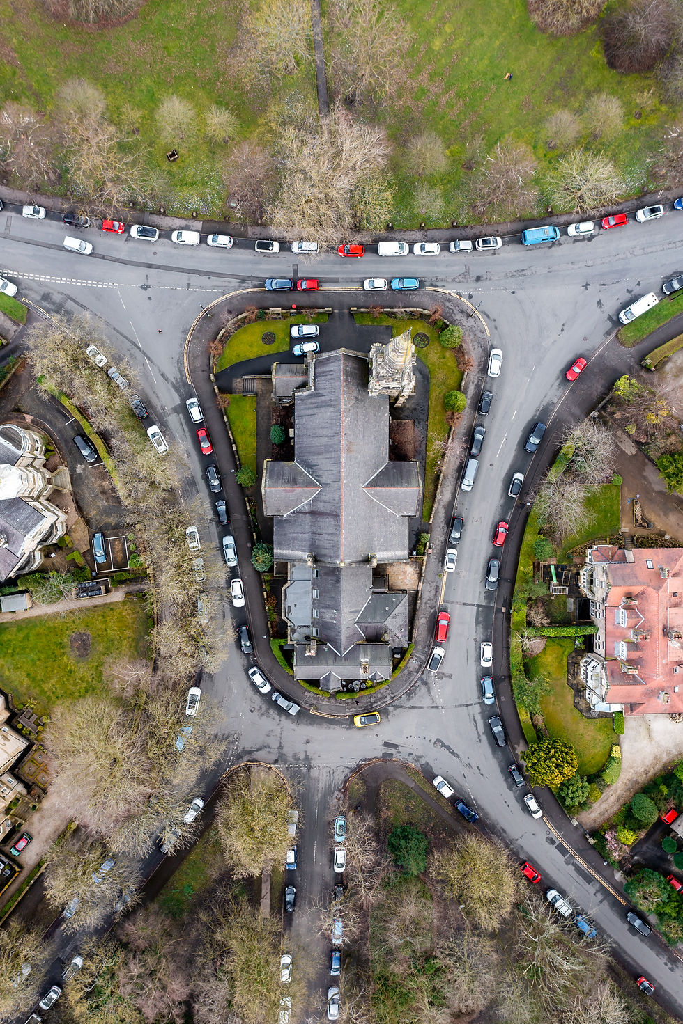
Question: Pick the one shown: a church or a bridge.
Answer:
church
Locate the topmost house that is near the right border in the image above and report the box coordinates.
[574,544,683,715]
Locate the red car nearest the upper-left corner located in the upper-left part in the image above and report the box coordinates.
[102,221,126,235]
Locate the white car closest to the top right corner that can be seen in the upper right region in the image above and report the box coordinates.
[633,205,664,224]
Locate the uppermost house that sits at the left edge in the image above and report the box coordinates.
[0,419,70,587]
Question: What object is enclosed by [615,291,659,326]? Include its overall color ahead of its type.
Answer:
white vehicle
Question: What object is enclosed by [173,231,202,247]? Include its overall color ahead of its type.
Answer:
white vehicle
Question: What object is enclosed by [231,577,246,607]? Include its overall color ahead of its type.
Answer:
white car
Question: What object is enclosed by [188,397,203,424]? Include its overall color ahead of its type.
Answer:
white car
